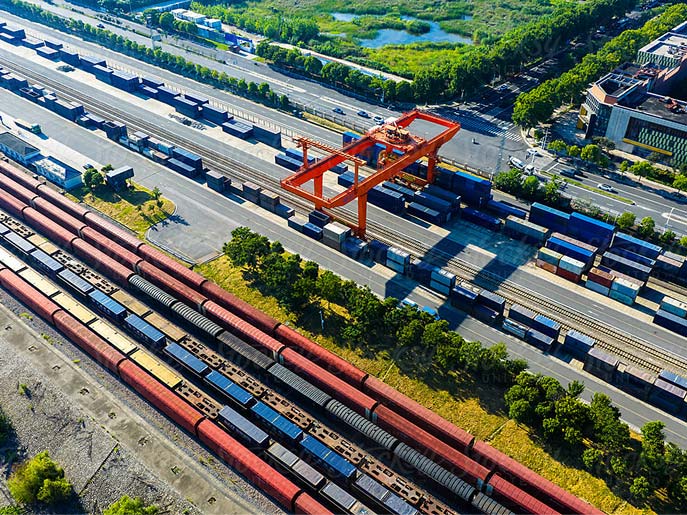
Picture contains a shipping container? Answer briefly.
Yes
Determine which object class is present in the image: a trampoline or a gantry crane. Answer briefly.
gantry crane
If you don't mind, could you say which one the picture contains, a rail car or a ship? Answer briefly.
rail car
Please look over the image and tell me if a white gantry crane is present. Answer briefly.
No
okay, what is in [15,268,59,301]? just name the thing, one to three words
rail car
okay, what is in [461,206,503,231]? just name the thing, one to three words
shipping container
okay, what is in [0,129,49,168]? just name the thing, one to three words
house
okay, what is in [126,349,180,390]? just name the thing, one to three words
rail car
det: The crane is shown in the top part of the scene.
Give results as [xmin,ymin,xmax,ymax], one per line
[282,108,459,242]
